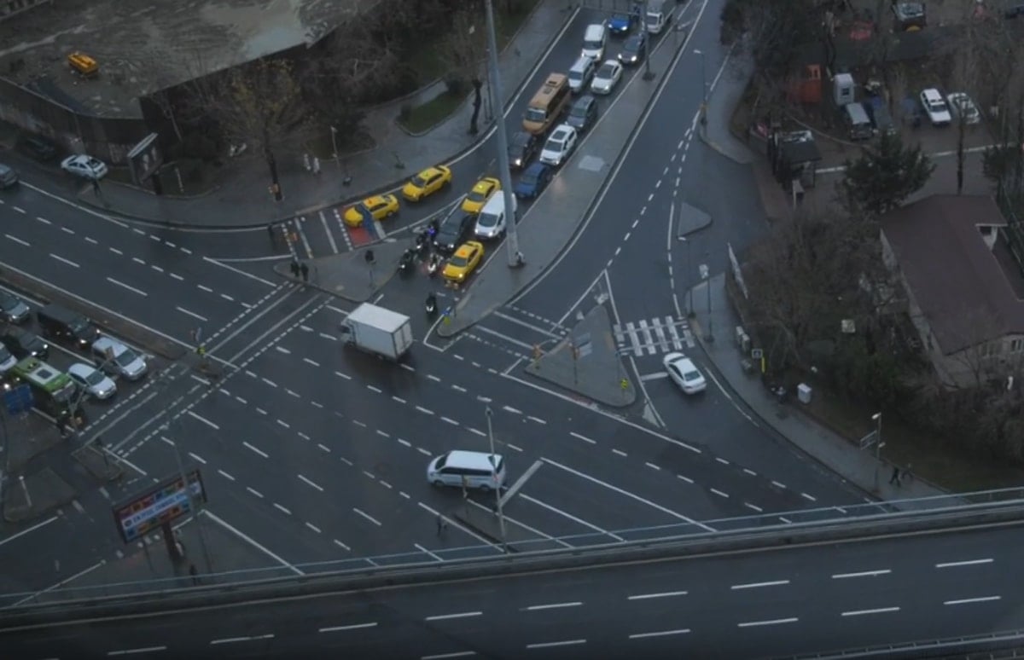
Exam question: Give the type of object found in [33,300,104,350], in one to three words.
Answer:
vehicle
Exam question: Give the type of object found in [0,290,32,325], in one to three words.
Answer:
car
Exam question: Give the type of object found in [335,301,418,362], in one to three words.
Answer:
truck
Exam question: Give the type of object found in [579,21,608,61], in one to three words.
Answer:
van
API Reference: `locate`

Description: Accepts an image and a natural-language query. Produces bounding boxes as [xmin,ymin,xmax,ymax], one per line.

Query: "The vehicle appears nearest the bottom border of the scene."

[426,449,508,492]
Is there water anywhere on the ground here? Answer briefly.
No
